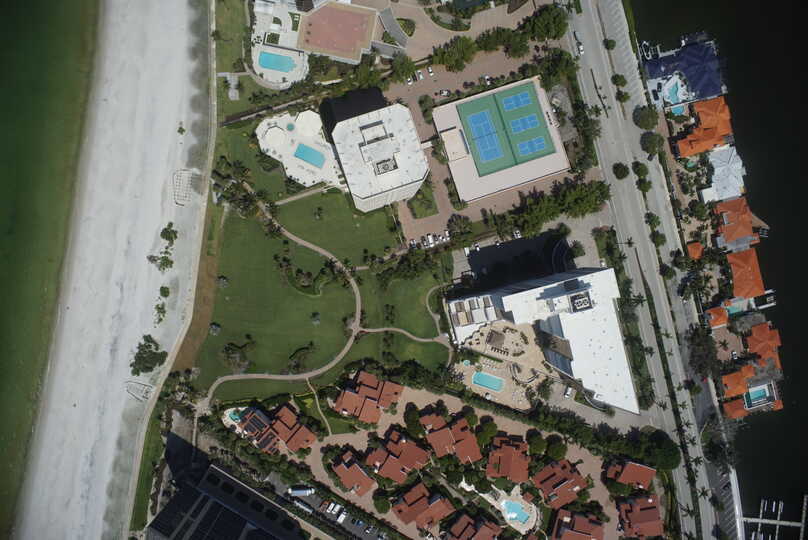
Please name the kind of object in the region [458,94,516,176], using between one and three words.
tennis court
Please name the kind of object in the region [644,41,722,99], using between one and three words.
house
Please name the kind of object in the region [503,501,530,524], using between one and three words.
swimming pool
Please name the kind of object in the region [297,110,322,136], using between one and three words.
building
